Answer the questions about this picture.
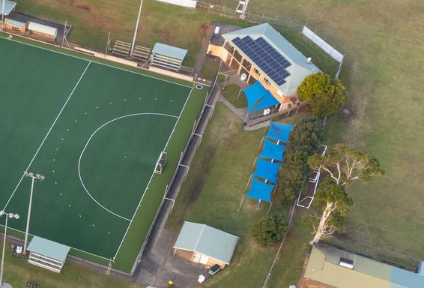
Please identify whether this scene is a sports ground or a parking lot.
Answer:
sports ground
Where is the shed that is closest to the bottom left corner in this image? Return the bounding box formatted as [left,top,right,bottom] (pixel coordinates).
[172,220,239,269]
